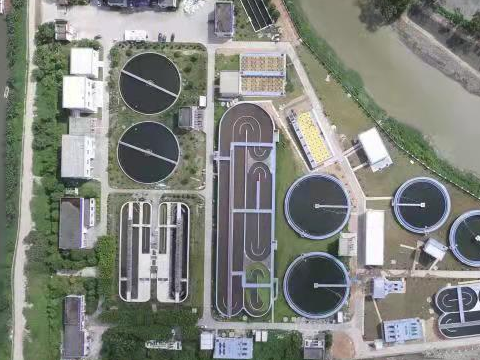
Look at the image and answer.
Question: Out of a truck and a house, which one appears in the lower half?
house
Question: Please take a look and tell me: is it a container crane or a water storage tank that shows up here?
water storage tank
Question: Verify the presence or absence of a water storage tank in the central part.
Yes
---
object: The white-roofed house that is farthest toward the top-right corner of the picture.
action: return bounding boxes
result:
[359,127,392,169]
